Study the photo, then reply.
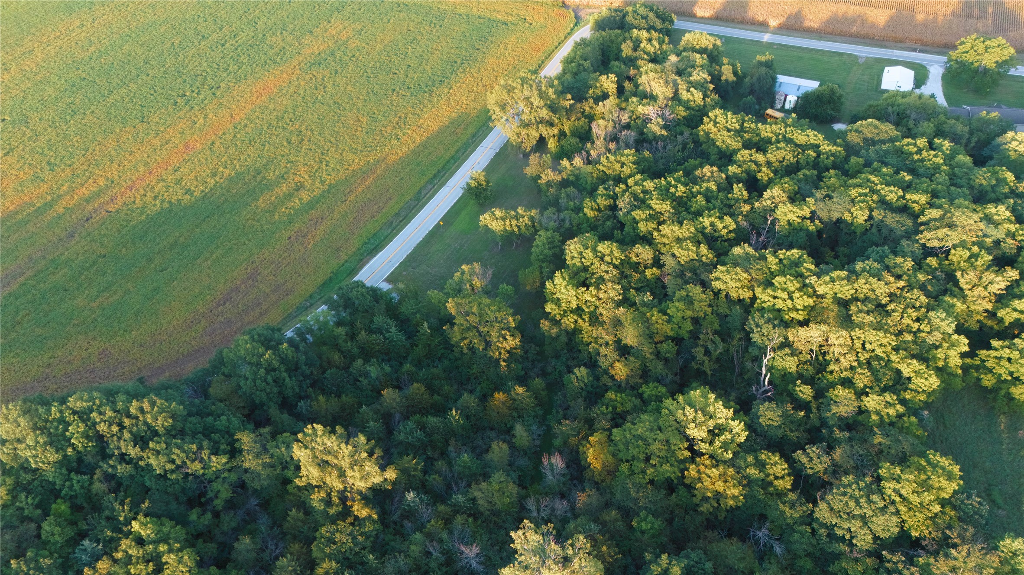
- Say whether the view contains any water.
No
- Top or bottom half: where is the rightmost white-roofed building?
top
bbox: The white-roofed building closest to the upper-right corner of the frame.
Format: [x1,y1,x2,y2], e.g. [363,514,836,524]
[882,66,916,93]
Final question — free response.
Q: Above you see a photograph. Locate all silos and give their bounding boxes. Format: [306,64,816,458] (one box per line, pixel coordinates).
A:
[771,91,785,111]
[782,95,797,113]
